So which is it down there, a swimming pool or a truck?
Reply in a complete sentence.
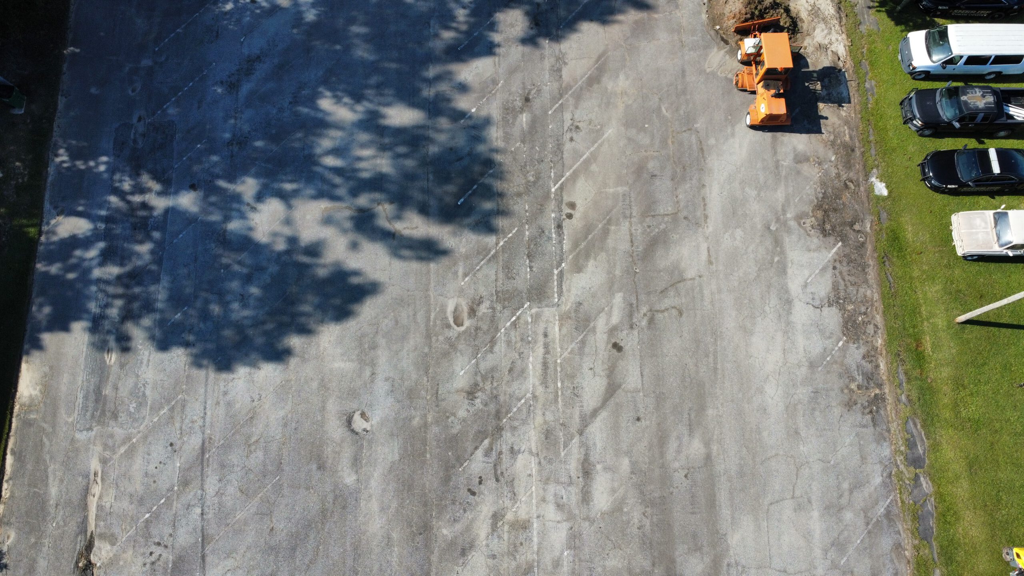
Visible in the photo is a truck.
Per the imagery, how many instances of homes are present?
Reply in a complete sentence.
The count of homes is 0.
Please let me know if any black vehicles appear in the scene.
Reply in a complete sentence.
Yes, the picture does show a black vehicle.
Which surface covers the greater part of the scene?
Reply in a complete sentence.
For the most part, this view shows paved ground.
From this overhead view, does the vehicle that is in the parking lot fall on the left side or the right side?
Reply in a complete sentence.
The vehicle that is in the parking lot appears in the right half of the scene.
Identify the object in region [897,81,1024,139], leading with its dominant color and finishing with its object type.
black truck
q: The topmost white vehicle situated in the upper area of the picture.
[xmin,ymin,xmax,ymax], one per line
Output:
[897,22,1024,81]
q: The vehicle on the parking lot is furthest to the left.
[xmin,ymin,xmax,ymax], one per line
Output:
[726,17,801,129]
